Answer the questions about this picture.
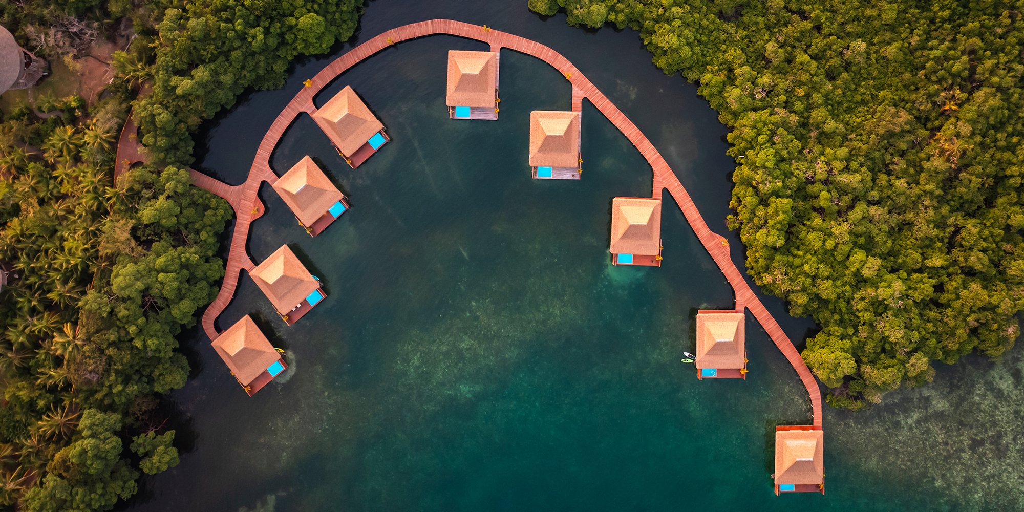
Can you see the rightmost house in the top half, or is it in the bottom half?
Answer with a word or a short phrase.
bottom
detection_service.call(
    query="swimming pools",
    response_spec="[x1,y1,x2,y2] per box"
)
[456,106,470,117]
[538,166,552,177]
[619,254,633,263]
[702,368,716,376]
[328,202,345,219]
[367,133,385,150]
[305,290,323,306]
[267,359,284,375]
[780,485,794,491]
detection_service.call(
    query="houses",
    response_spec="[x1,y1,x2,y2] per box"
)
[210,313,290,397]
[271,155,352,240]
[767,425,826,495]
[527,111,582,179]
[445,51,500,121]
[607,198,663,266]
[0,23,47,102]
[311,85,391,171]
[690,310,748,379]
[248,244,329,327]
